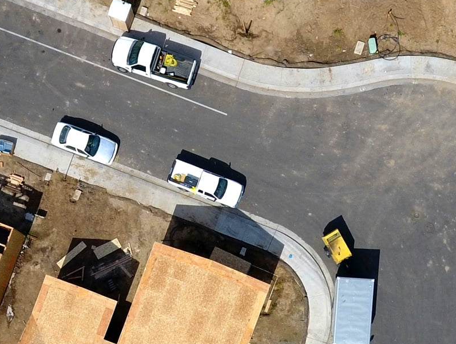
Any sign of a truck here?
Yes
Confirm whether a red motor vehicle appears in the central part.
No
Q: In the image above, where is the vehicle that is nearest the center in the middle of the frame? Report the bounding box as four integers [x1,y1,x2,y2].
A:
[166,157,244,210]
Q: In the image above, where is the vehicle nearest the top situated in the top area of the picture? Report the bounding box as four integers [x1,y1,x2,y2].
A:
[111,36,198,89]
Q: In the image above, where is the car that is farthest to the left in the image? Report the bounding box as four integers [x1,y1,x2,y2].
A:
[48,121,121,166]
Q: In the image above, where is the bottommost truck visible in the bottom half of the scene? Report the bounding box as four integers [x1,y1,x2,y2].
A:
[330,276,374,344]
